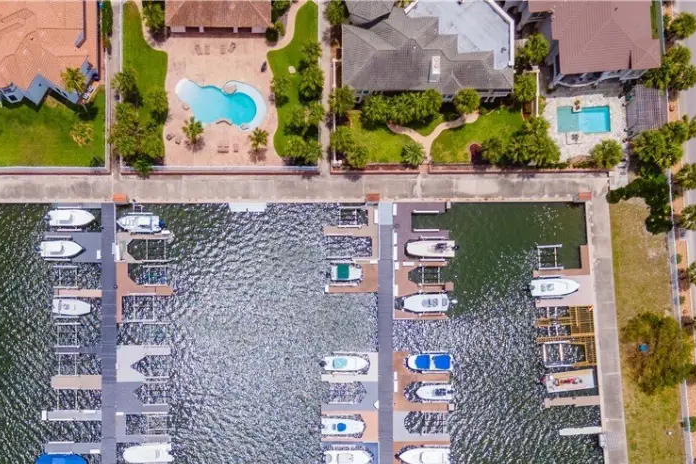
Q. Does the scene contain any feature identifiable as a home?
Yes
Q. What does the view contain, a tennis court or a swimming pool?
swimming pool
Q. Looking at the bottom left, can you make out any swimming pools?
No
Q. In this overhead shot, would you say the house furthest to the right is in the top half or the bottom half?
top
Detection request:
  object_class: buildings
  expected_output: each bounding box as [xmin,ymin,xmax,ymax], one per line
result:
[341,0,515,106]
[518,0,661,93]
[165,0,272,35]
[0,0,102,108]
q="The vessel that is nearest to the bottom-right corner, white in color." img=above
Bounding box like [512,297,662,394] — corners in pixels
[543,371,594,391]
